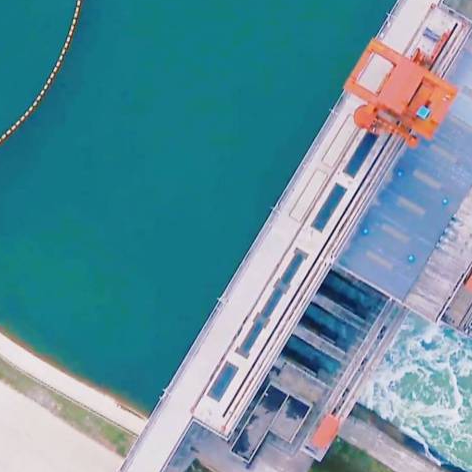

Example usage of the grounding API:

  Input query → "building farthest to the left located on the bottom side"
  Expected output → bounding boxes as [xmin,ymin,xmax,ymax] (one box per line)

[231,383,290,462]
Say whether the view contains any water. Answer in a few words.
Yes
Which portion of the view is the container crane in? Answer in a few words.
top right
